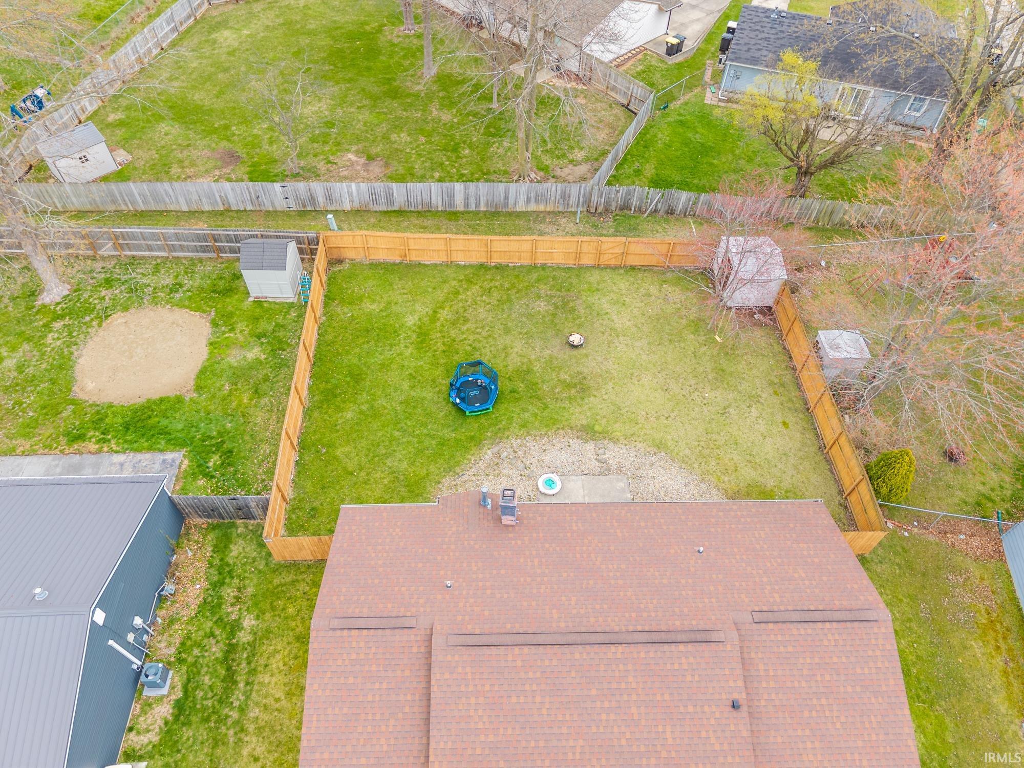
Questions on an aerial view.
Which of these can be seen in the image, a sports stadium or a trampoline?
trampoline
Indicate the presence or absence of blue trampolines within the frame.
Yes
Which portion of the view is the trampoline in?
center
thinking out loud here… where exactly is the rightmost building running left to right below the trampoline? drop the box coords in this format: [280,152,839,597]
[300,483,926,768]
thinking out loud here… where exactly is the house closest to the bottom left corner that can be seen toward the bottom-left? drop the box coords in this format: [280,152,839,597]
[0,472,187,768]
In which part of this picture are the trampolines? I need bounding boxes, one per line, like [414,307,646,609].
[450,361,498,419]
